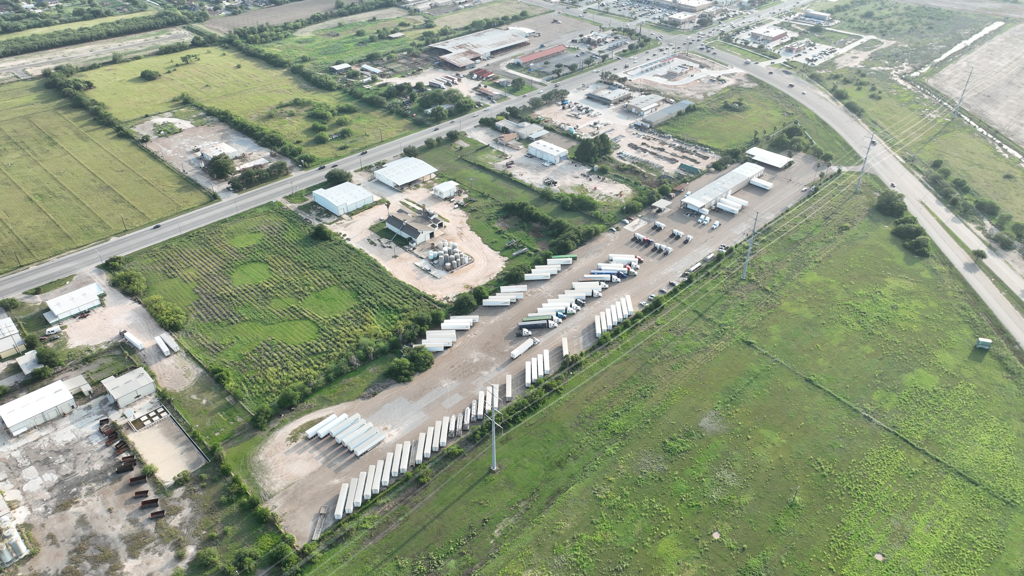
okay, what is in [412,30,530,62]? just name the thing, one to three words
barn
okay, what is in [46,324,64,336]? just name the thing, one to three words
vehicle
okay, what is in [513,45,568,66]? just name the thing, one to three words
building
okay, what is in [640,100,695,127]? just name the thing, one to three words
shed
